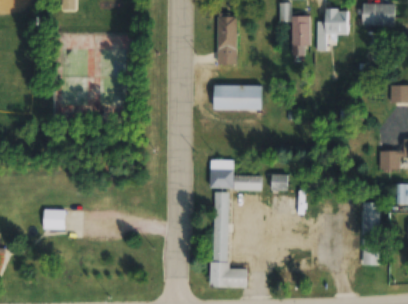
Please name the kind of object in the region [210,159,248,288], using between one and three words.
building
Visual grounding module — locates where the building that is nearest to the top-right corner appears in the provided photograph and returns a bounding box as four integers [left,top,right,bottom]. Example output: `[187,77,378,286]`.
[362,3,397,26]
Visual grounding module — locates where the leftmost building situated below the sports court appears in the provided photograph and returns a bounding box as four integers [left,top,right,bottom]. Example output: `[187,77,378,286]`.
[42,208,66,231]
